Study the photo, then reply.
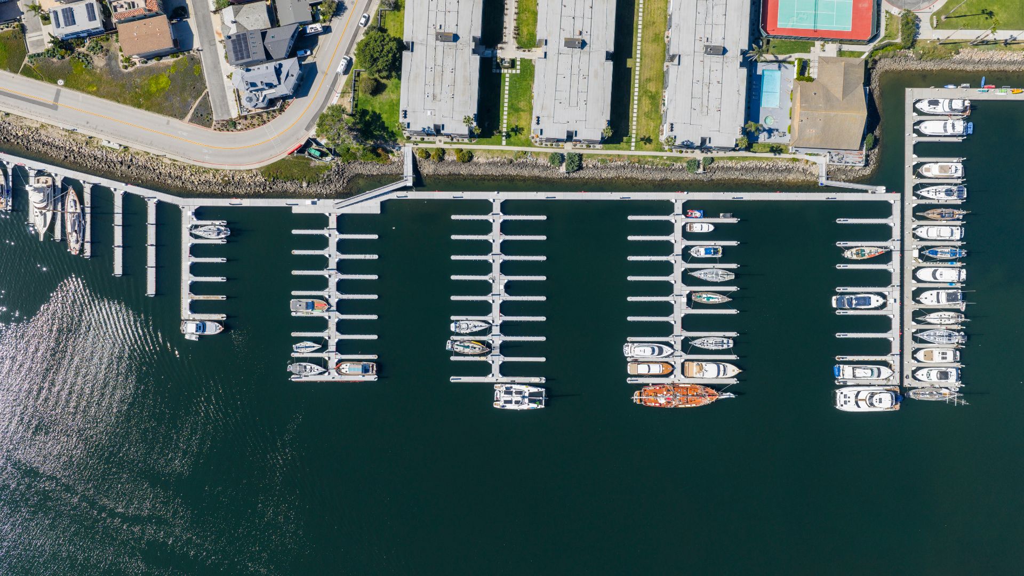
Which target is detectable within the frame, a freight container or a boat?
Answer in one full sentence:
Visible in the photo is a boat.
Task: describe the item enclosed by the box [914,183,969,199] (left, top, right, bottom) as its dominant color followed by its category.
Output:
white boat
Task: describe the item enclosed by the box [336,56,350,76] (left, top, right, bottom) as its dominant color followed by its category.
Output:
white vehicle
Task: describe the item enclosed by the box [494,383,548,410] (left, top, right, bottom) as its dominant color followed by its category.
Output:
white boat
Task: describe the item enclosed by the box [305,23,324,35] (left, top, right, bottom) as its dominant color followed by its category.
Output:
white vehicle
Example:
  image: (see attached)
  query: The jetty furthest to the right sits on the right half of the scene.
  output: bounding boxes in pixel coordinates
[903,88,1024,387]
